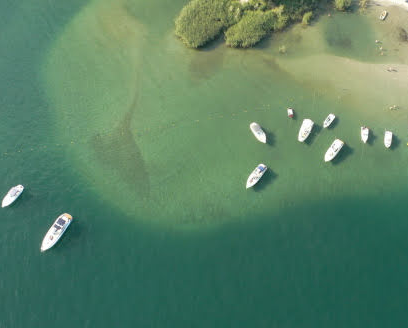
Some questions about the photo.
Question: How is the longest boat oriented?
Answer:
on a diagonal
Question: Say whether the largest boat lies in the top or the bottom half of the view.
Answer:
bottom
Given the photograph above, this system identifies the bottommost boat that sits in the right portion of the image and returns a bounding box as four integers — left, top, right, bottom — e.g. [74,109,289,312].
[247,162,268,187]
